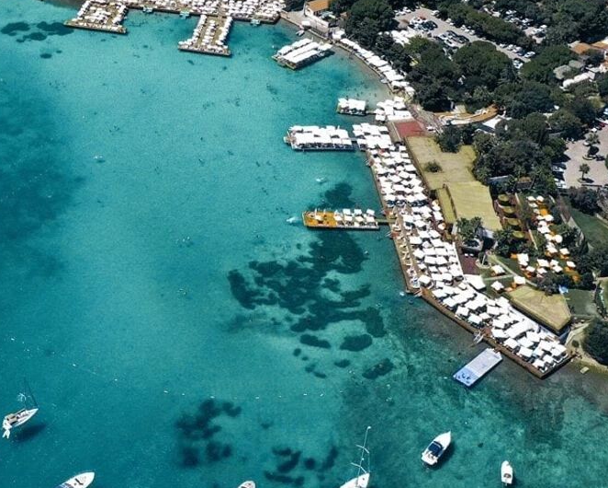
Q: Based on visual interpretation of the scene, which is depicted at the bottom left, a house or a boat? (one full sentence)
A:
There is a boat at the bottom left.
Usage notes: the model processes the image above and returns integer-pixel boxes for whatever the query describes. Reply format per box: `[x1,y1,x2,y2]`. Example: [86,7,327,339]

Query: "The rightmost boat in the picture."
[500,460,514,487]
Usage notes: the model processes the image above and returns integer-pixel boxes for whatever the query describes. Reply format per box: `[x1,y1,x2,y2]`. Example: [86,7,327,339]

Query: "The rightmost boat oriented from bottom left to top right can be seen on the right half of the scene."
[418,429,452,470]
